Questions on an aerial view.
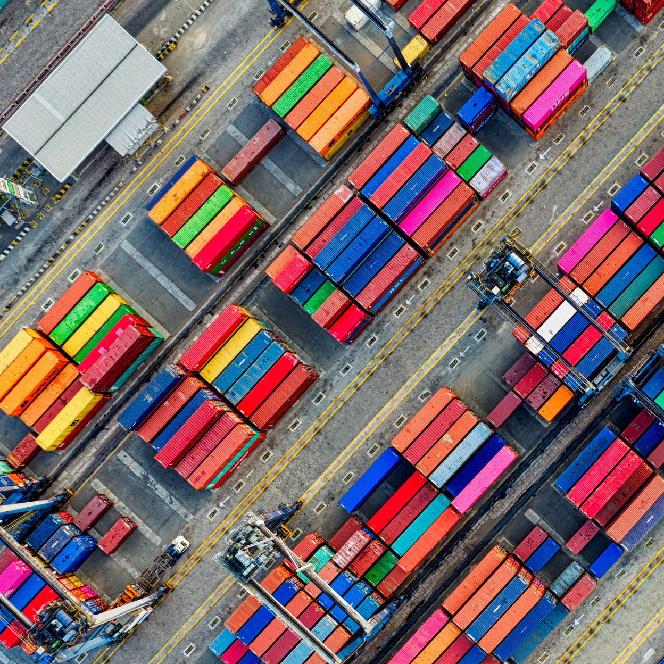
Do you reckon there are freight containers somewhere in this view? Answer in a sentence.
Yes, there's a freight container down there.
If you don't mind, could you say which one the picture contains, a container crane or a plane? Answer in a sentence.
Visible in the photo is a container crane.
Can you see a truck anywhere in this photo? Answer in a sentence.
Yes, looking at the shot, I can spot a truck.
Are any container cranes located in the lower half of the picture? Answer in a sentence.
Yes, you'll find a container crane in the lower half of the picture.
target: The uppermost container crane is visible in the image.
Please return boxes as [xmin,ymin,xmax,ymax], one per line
[262,0,429,129]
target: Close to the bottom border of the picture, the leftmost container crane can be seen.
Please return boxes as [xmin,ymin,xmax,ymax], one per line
[0,477,183,664]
